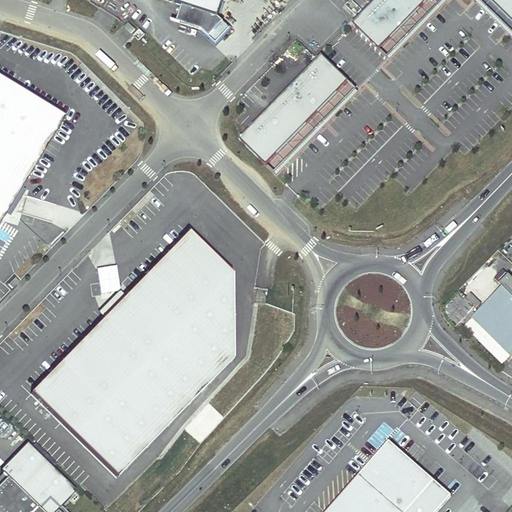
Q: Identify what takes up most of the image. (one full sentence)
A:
The bulk of the photo consists of paved ground.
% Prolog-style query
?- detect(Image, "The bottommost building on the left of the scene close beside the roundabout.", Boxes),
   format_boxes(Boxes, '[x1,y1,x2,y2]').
[34,229,236,476]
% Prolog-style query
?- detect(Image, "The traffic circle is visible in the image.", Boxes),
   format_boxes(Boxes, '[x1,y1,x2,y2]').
[285,244,466,384]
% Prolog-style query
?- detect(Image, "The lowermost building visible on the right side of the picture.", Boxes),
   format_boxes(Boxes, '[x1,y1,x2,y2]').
[323,439,452,512]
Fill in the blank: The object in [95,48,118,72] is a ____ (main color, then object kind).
white truck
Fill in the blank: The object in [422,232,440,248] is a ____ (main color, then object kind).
white vehicle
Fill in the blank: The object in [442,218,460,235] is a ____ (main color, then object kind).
white vehicle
